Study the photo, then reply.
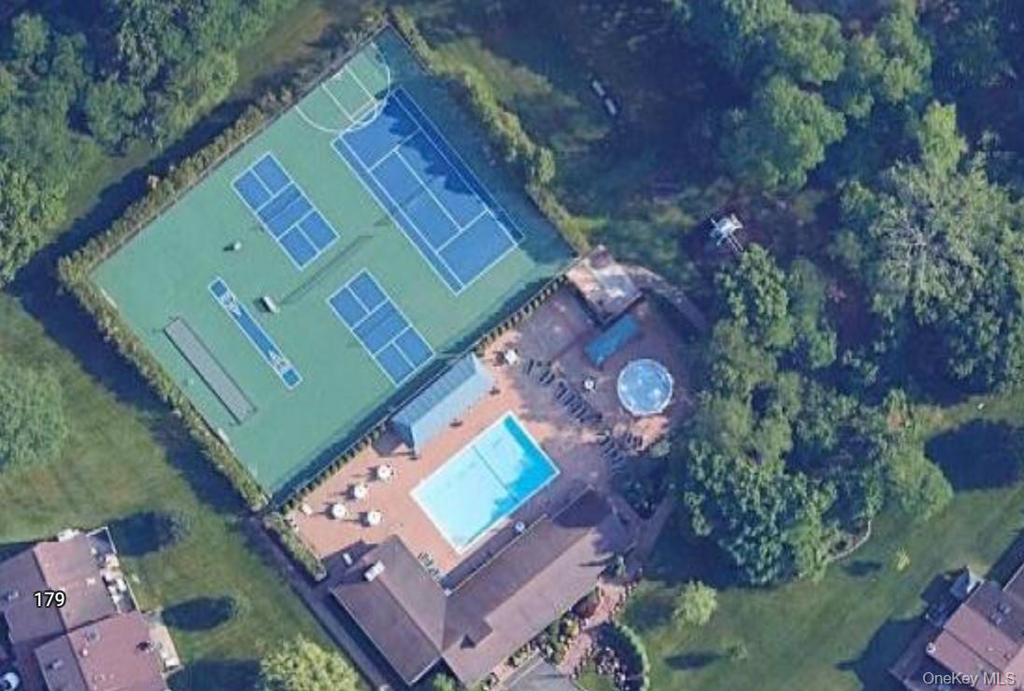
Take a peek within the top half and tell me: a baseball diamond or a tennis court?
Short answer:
tennis court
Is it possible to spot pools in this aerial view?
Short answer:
Yes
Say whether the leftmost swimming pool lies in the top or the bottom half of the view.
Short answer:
bottom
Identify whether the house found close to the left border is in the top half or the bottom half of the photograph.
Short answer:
bottom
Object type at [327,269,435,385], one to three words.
sports court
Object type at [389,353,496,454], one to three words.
building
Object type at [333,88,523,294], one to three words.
tennis court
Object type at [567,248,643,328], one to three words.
building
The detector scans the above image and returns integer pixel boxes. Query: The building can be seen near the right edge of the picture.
[889,563,1024,691]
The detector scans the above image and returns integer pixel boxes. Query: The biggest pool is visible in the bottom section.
[406,407,564,559]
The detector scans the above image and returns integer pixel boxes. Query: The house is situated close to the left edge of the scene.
[0,527,181,691]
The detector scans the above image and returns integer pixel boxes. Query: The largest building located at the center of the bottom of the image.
[330,484,642,690]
